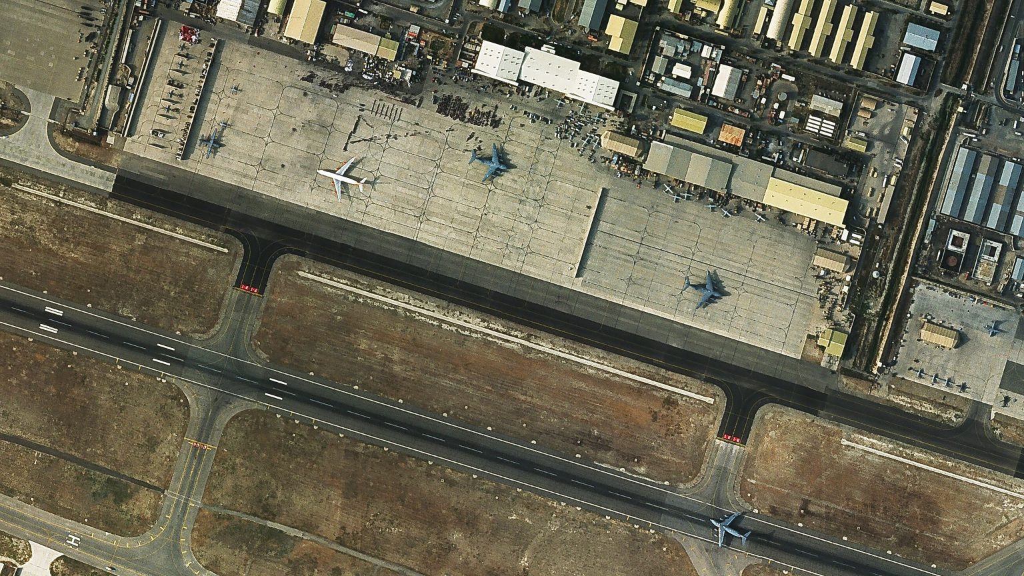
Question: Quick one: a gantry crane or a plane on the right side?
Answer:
plane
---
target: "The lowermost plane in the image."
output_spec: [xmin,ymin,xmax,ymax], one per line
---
[710,512,749,548]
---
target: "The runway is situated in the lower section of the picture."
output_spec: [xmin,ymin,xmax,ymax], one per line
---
[0,280,961,576]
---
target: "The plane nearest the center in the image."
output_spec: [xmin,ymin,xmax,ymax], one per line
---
[469,142,508,180]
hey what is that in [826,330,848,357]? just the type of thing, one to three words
building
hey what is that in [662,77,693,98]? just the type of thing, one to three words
shed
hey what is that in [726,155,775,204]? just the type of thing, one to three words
hangar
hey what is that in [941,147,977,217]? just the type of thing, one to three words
building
